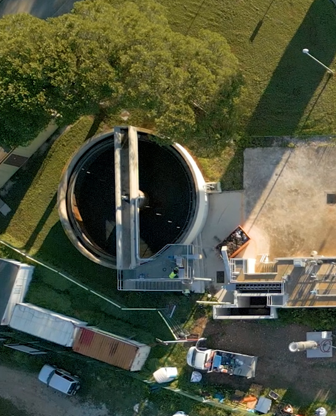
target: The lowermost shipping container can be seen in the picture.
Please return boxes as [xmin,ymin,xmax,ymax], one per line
[71,325,157,372]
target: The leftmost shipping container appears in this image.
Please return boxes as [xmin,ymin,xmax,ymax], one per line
[0,255,38,329]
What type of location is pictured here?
industrial area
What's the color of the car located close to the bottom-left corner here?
blue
